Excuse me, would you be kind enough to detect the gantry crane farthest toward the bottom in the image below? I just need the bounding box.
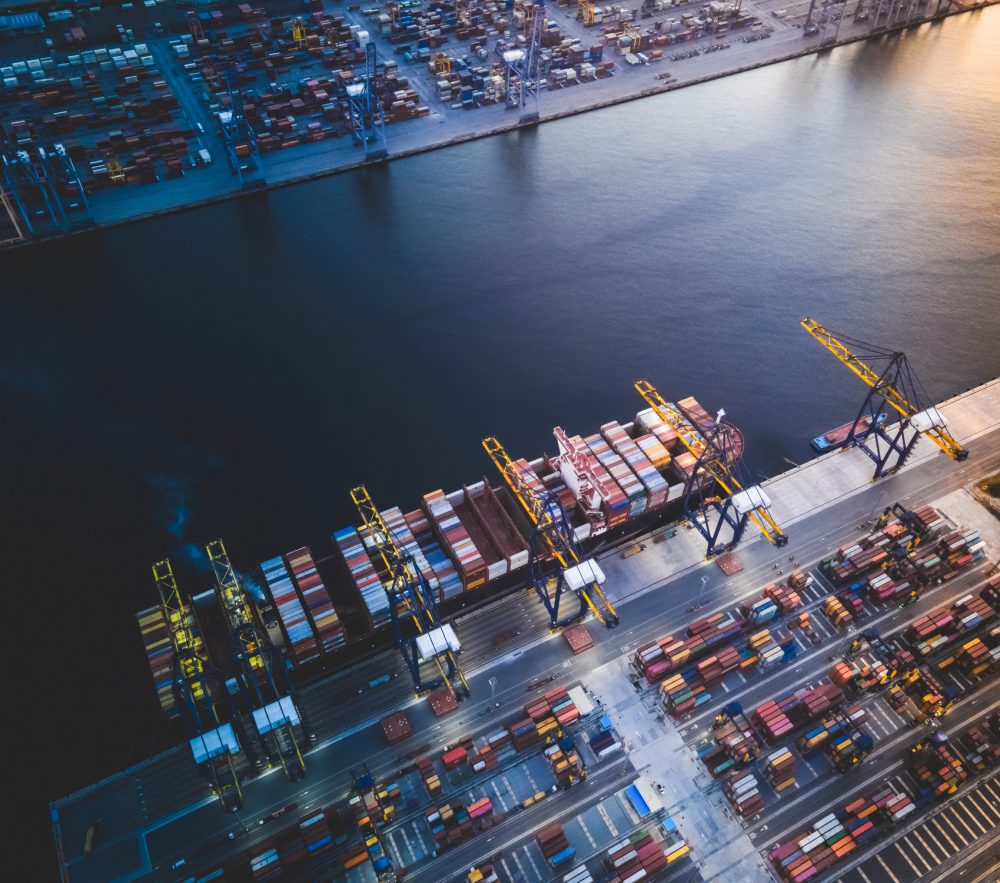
[358,817,400,883]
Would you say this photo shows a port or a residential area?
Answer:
port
